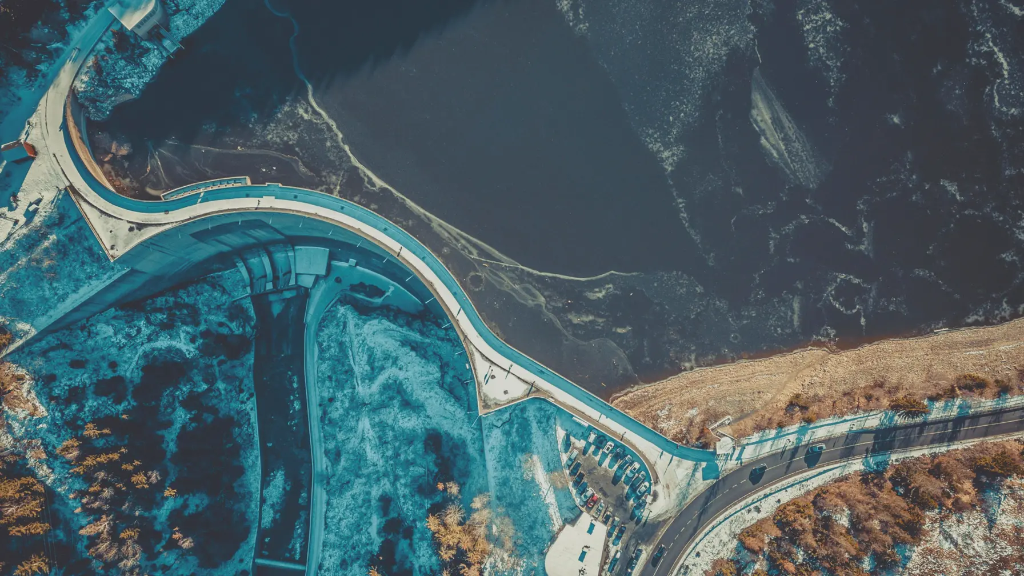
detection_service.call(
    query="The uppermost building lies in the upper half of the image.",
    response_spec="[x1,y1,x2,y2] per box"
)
[108,0,171,40]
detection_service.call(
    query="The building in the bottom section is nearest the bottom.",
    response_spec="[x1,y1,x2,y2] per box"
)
[545,510,607,576]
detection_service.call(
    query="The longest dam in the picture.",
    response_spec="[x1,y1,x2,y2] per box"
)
[61,15,717,495]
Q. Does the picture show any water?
Yes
